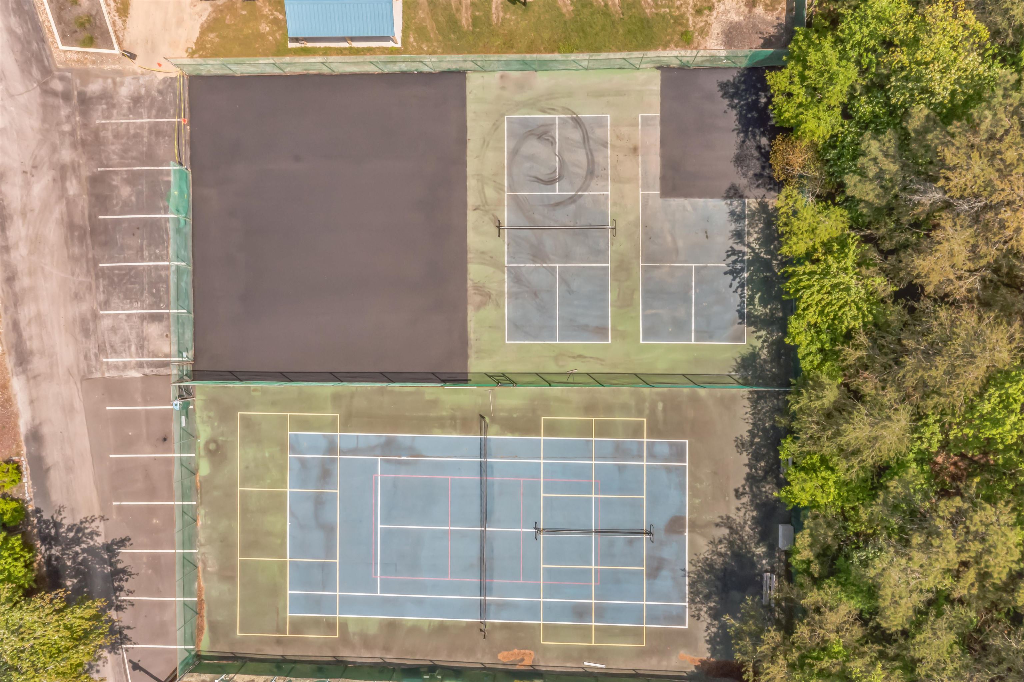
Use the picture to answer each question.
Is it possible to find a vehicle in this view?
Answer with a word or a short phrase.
No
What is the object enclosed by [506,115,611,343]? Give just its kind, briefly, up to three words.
sports court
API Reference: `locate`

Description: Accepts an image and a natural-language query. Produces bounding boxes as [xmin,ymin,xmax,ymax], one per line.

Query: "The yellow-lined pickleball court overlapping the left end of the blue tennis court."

[237,413,339,637]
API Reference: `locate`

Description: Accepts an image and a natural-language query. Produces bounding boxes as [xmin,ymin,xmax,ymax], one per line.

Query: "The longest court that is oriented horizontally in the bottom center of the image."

[288,432,688,628]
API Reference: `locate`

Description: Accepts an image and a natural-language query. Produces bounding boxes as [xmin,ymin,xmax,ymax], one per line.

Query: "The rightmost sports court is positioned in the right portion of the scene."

[640,114,747,344]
